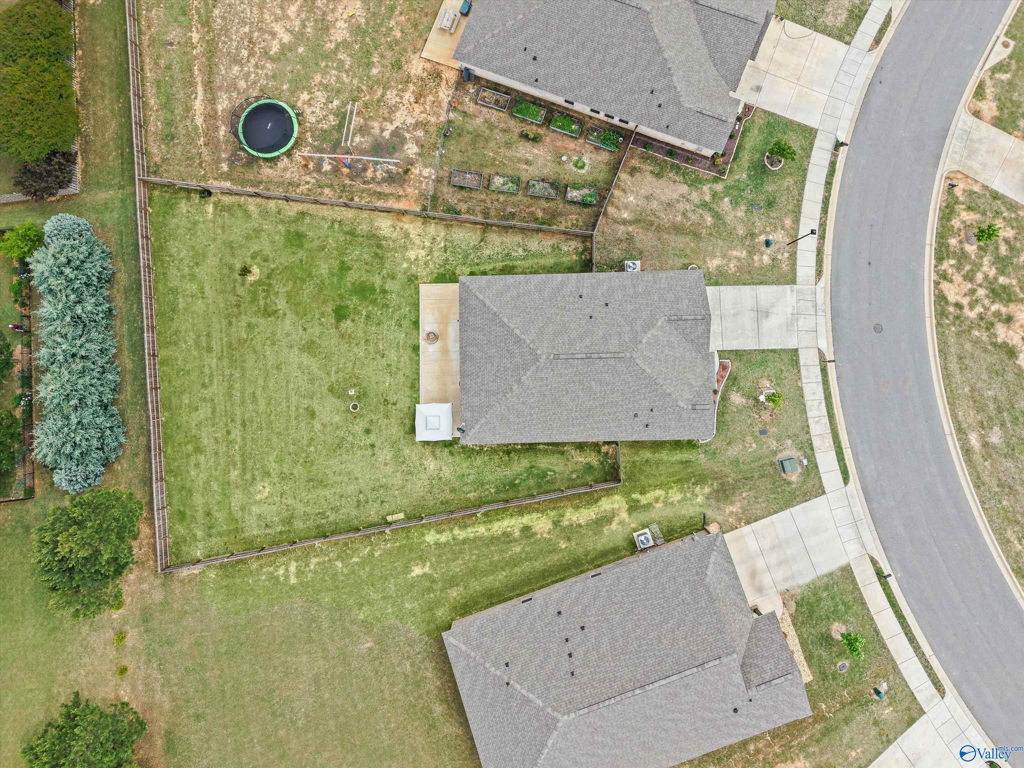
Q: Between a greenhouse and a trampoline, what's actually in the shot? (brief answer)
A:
trampoline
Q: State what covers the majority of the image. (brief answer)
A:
grass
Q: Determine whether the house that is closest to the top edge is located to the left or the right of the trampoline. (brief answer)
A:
on the right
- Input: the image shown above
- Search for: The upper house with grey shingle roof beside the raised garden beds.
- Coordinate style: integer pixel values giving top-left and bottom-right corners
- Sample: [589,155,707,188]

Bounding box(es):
[452,0,773,157]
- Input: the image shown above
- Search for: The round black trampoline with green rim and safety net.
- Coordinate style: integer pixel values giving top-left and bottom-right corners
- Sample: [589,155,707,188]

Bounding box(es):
[230,89,303,161]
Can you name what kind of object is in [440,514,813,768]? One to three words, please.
house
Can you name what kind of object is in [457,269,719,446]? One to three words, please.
house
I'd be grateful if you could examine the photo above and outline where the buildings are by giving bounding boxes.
[452,0,773,157]
[440,514,813,768]
[457,269,719,446]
